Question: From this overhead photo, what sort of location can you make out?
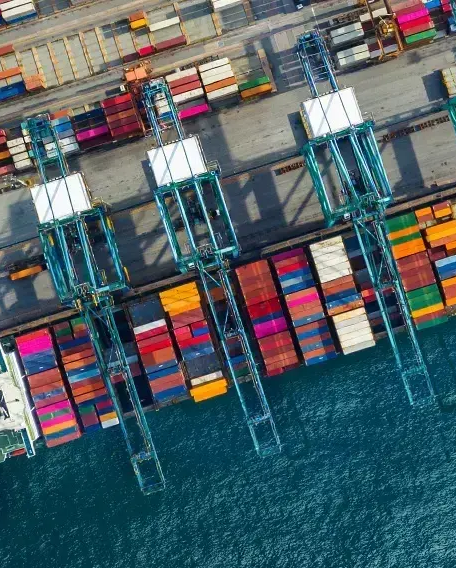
port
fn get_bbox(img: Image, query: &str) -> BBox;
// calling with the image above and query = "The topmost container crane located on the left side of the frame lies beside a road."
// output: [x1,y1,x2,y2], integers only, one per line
[122,59,174,143]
